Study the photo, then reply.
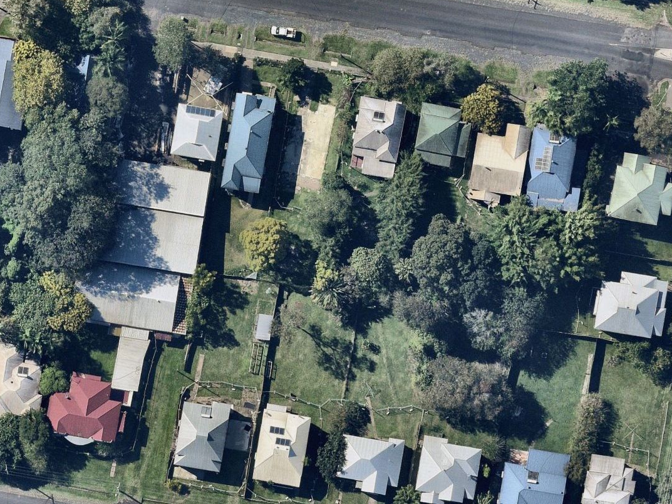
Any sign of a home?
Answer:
Yes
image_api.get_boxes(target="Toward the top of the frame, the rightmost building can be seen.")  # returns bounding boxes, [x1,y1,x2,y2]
[606,153,672,226]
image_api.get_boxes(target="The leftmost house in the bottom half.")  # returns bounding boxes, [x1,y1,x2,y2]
[0,343,42,416]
